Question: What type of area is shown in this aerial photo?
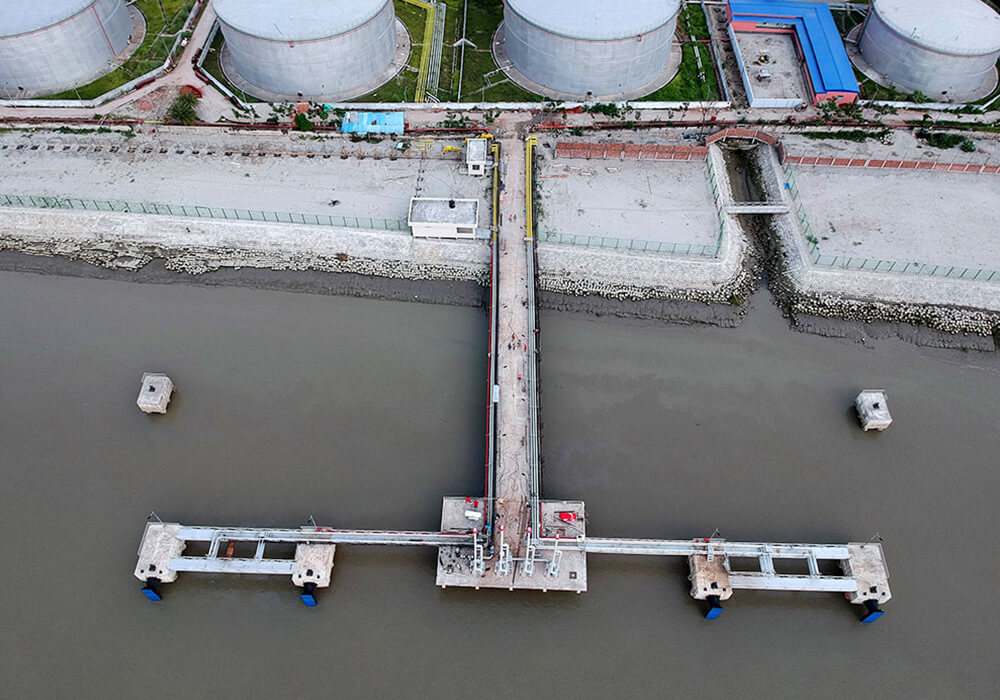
industrial area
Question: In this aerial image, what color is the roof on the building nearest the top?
blue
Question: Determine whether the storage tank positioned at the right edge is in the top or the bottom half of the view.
top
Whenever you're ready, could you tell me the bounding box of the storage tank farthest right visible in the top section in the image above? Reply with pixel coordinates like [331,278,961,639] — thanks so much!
[844,0,1000,103]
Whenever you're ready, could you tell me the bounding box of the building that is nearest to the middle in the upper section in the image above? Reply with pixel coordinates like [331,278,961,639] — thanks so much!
[408,197,479,239]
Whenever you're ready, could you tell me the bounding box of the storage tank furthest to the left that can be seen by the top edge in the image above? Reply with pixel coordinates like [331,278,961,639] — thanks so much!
[0,0,147,98]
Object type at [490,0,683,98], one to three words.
storage tank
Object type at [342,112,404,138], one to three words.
shed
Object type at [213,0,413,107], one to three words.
storage tank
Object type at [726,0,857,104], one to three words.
building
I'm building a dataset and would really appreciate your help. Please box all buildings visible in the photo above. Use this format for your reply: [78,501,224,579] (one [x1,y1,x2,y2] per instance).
[408,197,479,239]
[726,0,857,104]
[466,137,487,175]
[342,112,404,138]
